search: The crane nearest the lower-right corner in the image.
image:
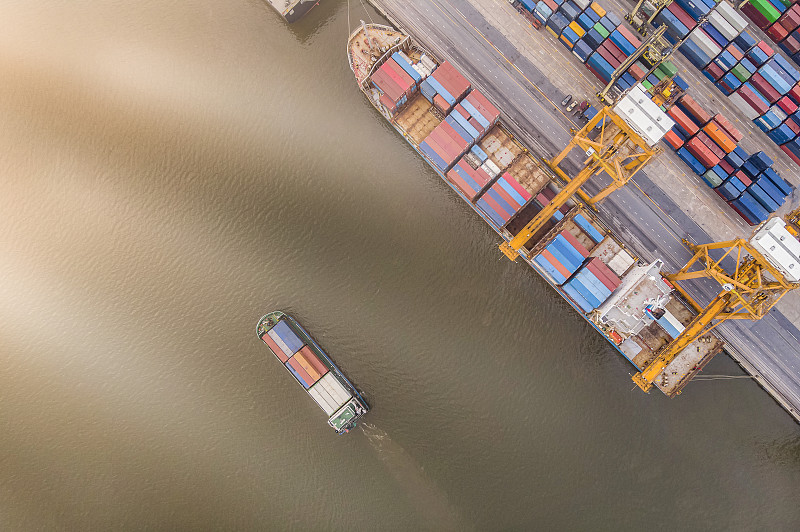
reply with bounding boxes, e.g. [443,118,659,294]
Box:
[627,205,800,399]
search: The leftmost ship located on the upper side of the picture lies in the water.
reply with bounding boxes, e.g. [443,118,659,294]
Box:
[264,0,321,28]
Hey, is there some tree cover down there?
No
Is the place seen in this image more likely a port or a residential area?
port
